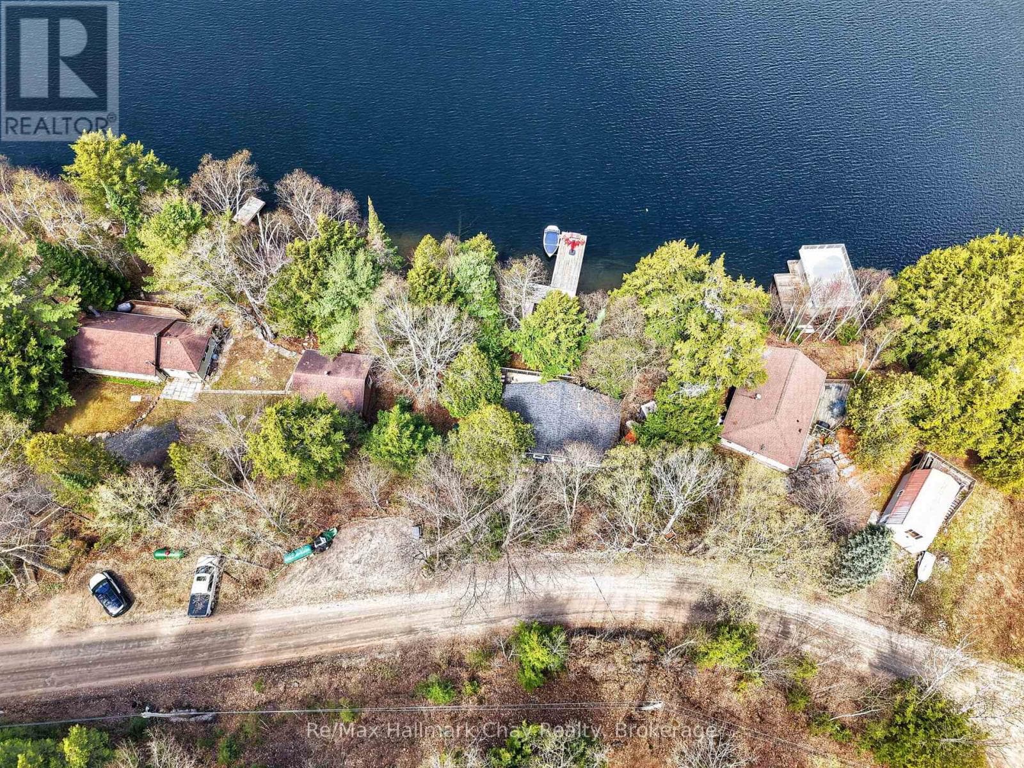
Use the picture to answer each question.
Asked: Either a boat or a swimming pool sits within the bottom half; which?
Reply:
boat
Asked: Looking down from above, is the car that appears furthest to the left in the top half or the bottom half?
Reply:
bottom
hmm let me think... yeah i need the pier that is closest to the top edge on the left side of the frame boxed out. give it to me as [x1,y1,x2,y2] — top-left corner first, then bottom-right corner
[233,197,269,229]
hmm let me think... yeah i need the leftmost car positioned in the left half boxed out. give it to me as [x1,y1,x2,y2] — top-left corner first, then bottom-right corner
[91,574,128,620]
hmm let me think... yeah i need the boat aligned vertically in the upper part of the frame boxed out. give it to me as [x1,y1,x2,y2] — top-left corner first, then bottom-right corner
[543,221,559,260]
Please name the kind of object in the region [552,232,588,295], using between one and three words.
pier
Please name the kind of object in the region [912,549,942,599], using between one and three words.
boat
